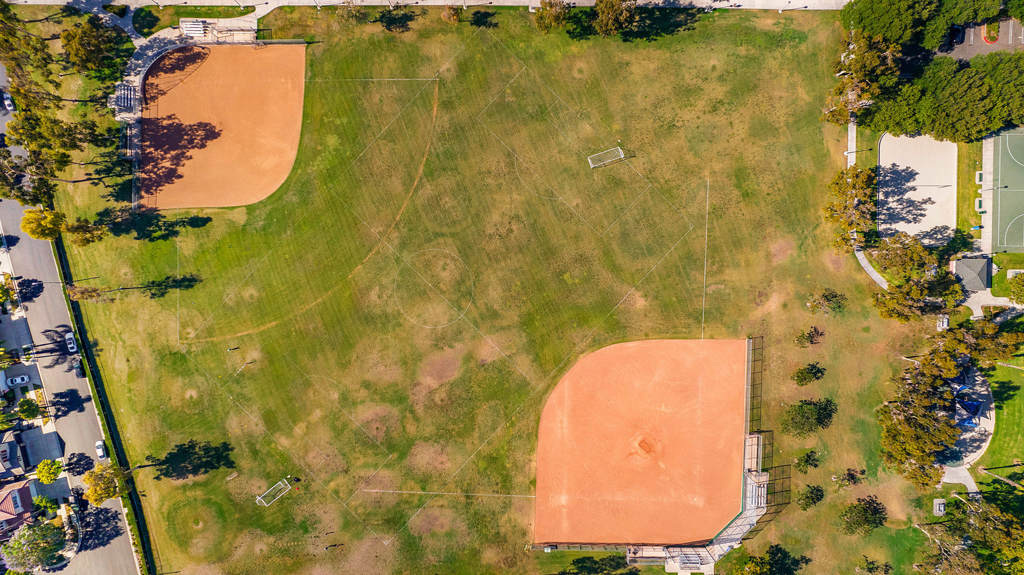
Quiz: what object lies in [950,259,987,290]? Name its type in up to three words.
building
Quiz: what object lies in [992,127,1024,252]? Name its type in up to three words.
basketball court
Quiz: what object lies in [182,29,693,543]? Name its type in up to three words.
soccer field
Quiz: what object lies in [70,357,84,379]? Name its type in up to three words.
car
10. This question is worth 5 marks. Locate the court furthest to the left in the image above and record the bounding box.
[877,130,959,247]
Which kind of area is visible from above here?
sports ground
